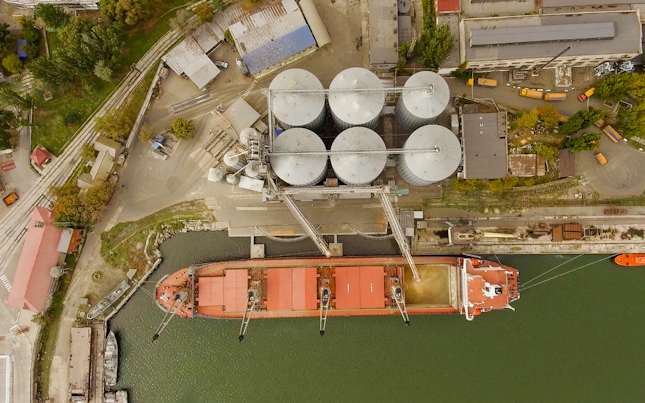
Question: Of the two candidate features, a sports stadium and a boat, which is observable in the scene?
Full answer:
I can see a boat in this picture.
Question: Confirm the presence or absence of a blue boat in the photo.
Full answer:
No, the frame has no blue boat in it.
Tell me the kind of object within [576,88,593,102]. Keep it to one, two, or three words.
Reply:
vehicle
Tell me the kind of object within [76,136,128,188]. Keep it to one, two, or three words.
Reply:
house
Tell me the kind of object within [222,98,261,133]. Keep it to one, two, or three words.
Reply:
shed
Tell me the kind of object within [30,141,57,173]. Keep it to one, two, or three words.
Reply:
building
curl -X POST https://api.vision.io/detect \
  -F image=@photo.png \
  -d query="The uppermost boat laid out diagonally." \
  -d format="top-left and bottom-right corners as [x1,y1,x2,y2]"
[87,281,130,319]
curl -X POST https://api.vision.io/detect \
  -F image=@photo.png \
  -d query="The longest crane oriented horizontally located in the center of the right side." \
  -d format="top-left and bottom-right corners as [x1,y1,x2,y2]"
[445,220,522,247]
